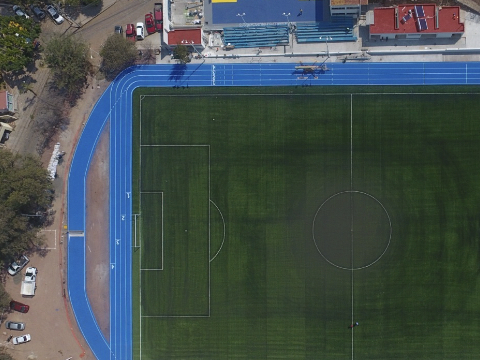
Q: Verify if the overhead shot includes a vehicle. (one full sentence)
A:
Yes, a vehicle can be made out from above.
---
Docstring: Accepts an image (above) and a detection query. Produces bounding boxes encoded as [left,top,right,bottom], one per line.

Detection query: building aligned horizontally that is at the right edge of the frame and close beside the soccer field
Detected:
[369,4,464,39]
